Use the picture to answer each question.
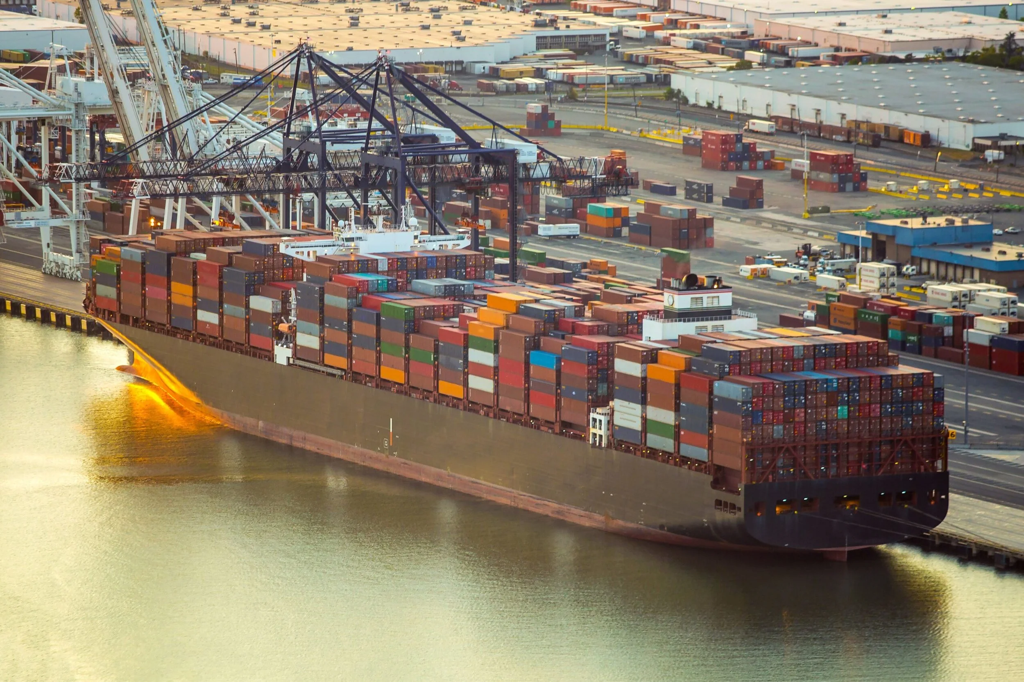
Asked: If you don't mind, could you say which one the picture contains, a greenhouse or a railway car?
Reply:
railway car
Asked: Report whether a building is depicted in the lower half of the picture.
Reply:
No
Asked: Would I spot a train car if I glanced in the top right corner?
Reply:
Yes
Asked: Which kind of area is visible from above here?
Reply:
port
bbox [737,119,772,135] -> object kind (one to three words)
vehicle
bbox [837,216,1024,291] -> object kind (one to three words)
building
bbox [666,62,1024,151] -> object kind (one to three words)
building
